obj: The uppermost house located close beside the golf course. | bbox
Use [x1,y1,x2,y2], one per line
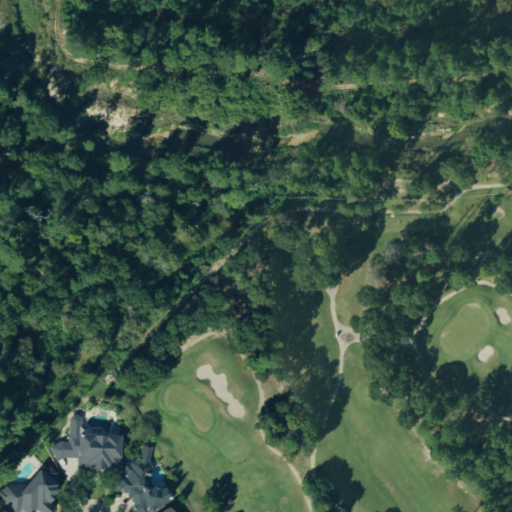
[50,409,124,471]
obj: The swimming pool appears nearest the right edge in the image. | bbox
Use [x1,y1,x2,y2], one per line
[150,462,168,490]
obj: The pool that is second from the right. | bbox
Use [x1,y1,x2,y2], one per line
[83,407,117,433]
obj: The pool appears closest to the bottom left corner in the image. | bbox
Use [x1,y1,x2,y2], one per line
[14,454,42,486]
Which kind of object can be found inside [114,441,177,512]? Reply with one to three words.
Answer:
house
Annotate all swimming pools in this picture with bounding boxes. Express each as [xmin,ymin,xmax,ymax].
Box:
[14,454,42,486]
[150,462,168,490]
[83,407,117,433]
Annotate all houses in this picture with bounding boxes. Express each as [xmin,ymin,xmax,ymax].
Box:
[114,441,177,512]
[50,409,124,471]
[0,470,66,512]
